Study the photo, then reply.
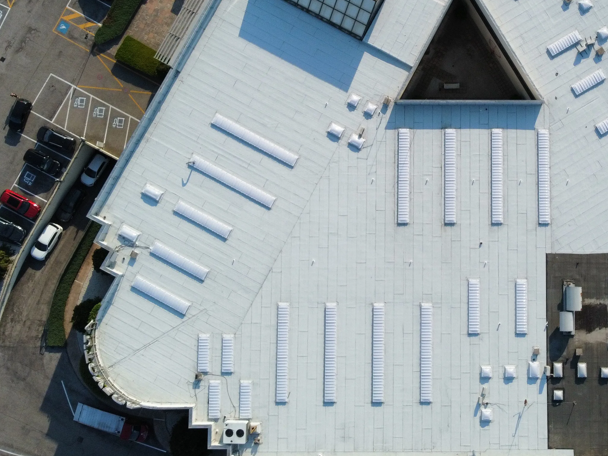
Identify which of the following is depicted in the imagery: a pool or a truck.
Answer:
truck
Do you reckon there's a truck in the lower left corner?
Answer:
Yes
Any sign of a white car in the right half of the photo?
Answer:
No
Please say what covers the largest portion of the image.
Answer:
buildings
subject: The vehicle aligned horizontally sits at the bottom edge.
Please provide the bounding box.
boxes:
[73,396,158,435]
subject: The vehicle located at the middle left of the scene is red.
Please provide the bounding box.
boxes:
[0,187,41,218]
